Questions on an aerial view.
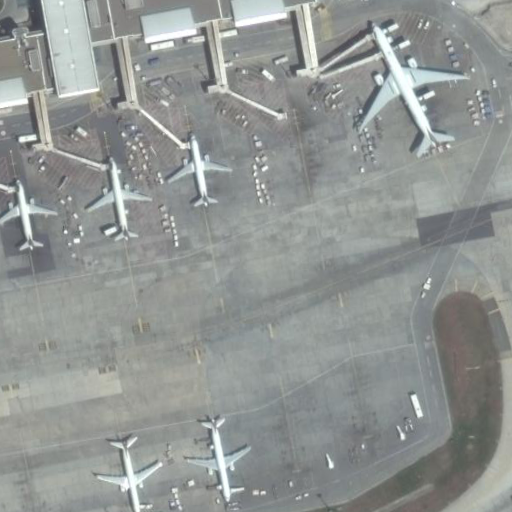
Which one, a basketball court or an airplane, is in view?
airplane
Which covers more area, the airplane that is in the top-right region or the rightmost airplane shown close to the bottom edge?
the airplane that is in the top-right region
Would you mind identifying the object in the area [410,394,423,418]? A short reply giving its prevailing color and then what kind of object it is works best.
white vehicle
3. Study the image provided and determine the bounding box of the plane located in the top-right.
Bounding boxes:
[358,24,468,156]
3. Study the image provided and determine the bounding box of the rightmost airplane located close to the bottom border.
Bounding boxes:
[186,418,252,502]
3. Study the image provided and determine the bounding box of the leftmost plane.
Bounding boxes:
[0,180,57,251]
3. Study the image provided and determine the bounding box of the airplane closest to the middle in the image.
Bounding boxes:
[168,134,234,206]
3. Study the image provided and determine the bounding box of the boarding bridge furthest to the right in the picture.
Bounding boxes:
[296,3,384,78]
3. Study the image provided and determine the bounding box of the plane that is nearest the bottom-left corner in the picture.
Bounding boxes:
[98,436,164,512]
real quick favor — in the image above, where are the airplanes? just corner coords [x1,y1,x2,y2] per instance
[186,418,252,502]
[168,134,234,206]
[358,24,468,156]
[87,158,153,240]
[98,436,164,512]
[0,180,57,251]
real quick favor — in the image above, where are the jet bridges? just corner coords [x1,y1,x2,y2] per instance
[33,92,108,170]
[296,3,384,78]
[206,20,286,120]
[116,38,189,151]
[0,182,16,194]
